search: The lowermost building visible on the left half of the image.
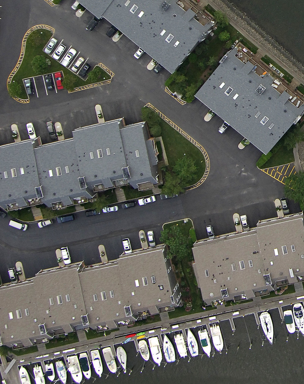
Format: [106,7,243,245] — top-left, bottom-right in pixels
[0,245,178,351]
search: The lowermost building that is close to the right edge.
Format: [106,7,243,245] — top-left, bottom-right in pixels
[192,216,304,308]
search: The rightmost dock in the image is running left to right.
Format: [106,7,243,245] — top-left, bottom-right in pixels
[133,297,304,341]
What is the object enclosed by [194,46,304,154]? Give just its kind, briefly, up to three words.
building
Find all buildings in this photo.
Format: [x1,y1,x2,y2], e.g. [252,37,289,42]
[0,121,162,212]
[194,46,304,154]
[77,0,215,74]
[0,245,178,351]
[192,216,304,308]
